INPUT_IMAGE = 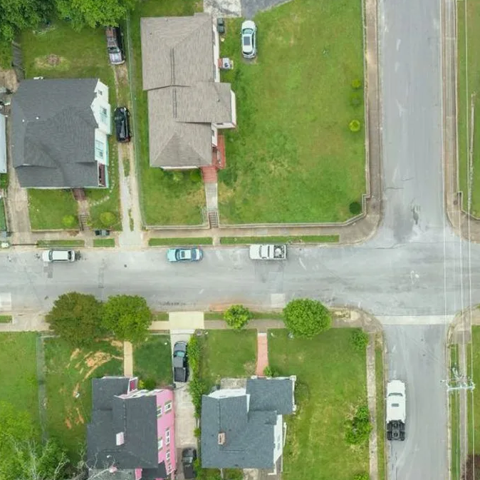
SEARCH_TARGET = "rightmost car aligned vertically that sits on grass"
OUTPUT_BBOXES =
[238,19,256,58]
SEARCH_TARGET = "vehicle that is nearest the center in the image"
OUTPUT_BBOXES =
[249,243,288,261]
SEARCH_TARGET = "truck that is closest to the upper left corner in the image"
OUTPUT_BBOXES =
[105,25,126,67]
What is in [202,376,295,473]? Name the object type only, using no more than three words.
house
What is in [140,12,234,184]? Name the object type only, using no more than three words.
house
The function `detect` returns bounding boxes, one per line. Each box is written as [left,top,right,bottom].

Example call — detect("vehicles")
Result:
[180,445,197,480]
[167,246,204,263]
[43,247,80,264]
[112,106,131,145]
[170,340,189,383]
[238,19,256,58]
[105,25,126,67]
[384,378,408,441]
[249,243,288,261]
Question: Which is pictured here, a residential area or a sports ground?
residential area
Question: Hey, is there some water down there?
No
